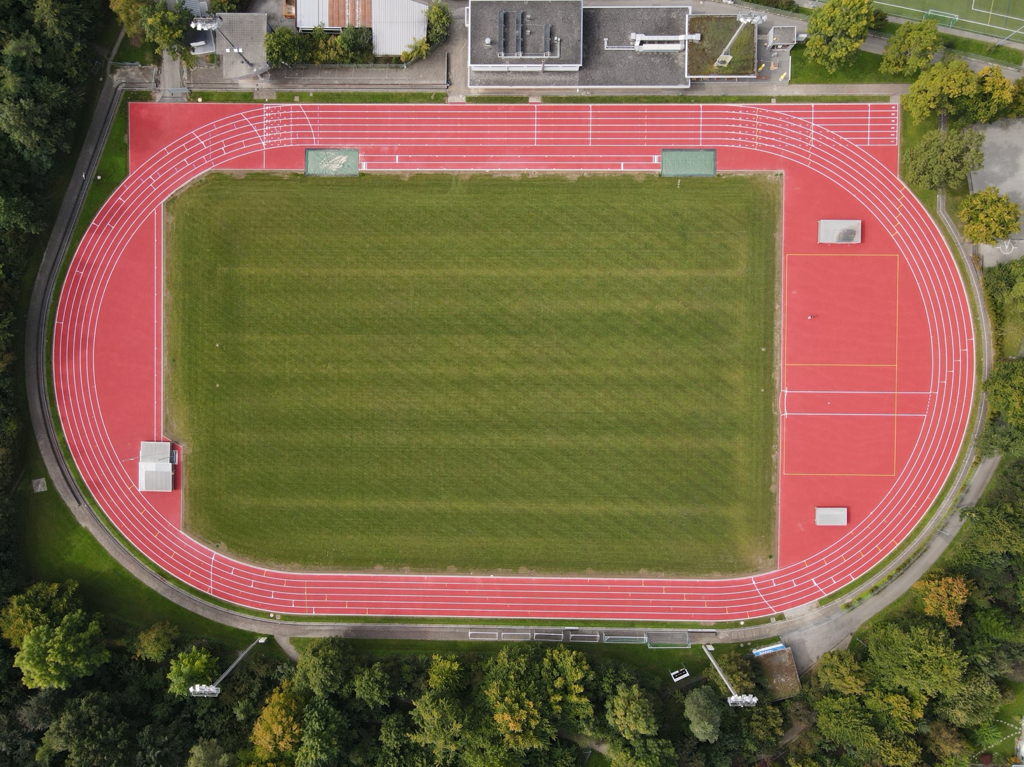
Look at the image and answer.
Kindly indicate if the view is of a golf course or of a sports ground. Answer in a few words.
sports ground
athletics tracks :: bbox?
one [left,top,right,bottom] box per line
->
[53,100,976,622]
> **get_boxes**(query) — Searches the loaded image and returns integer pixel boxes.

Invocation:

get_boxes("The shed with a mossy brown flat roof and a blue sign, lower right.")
[750,641,802,702]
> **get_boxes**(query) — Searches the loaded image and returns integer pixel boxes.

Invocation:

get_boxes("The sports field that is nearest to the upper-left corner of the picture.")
[141,170,783,580]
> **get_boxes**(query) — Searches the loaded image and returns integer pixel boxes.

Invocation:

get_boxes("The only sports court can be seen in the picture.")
[784,255,899,475]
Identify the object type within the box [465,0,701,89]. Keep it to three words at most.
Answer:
building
